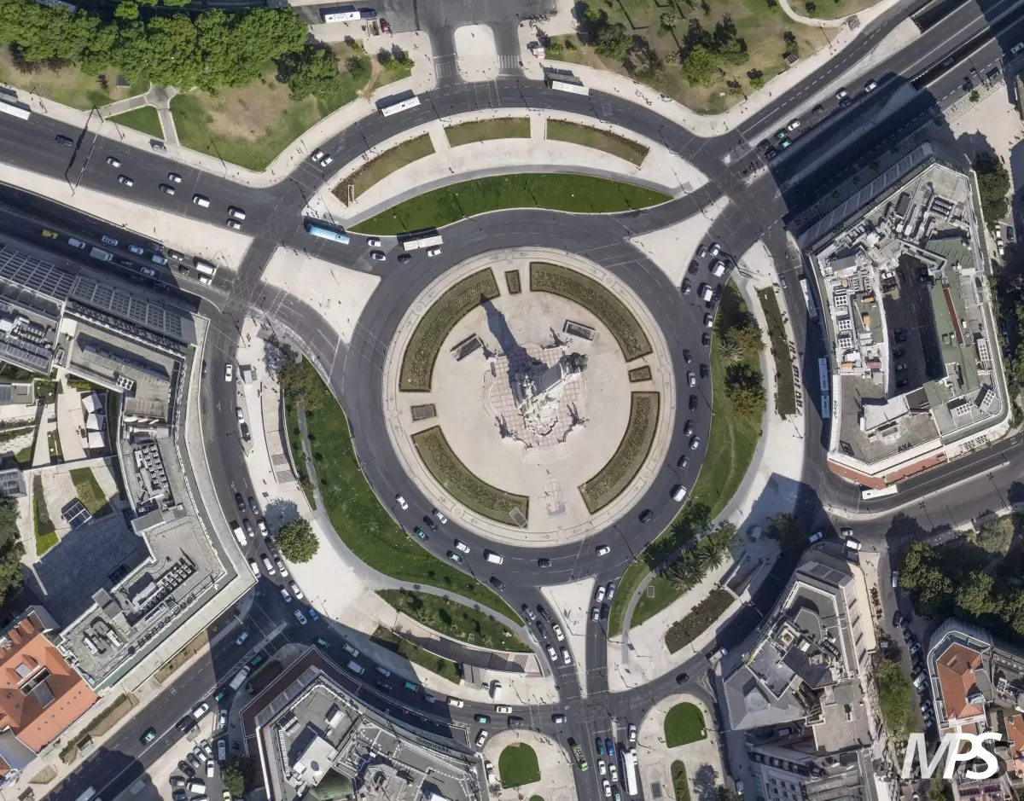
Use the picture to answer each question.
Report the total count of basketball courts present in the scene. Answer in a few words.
0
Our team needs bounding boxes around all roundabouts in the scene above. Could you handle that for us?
[338,210,711,588]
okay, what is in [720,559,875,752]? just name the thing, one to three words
building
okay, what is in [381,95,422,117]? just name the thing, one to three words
bus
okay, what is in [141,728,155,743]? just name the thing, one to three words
car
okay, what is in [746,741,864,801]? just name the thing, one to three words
building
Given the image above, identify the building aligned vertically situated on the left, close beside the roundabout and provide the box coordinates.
[54,281,256,693]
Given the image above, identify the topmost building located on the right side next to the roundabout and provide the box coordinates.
[799,140,1016,488]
